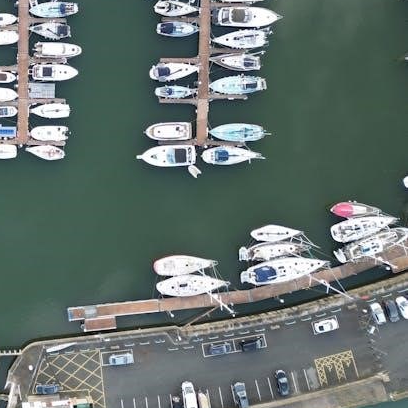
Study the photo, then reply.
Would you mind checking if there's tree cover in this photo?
No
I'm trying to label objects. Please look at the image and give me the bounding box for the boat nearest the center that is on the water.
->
[188,165,202,178]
